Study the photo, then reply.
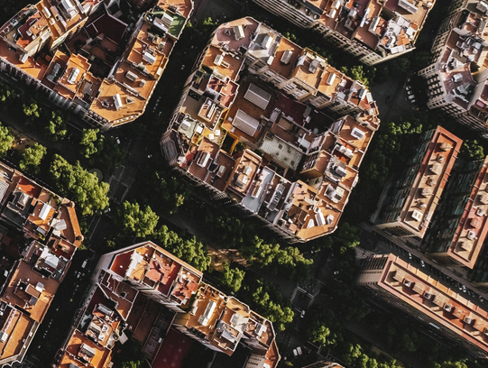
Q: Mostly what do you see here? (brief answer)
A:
buildings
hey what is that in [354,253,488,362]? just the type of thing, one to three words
building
